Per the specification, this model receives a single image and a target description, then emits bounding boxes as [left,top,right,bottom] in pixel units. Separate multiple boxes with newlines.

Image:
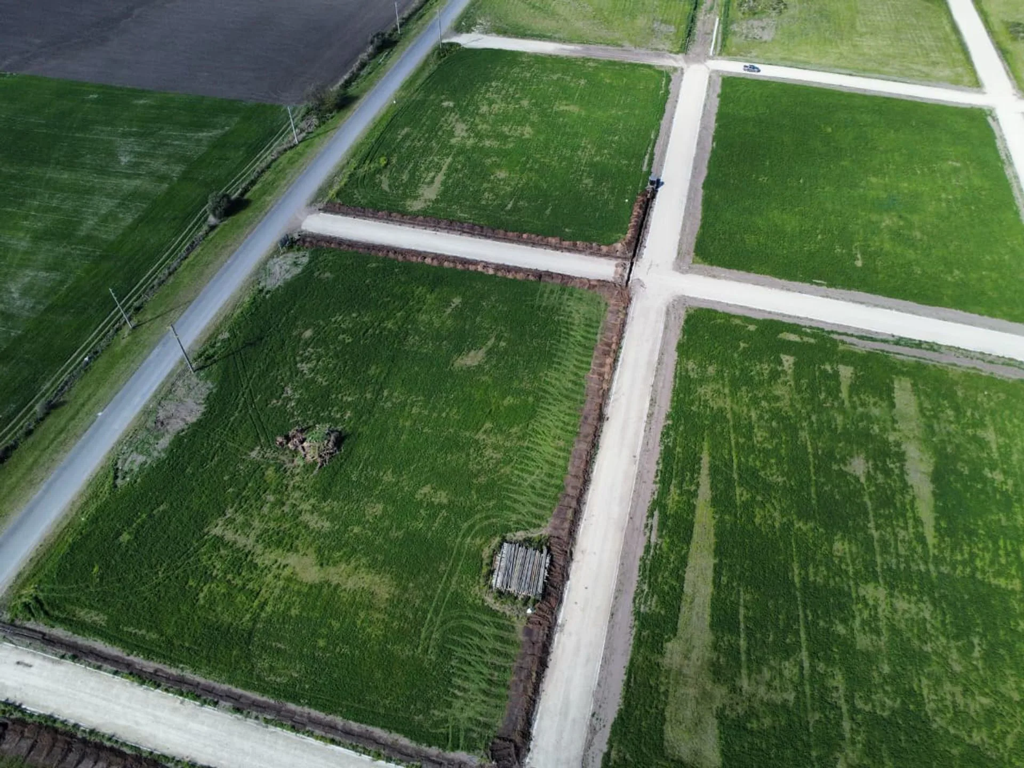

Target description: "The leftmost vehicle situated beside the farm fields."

[648,172,661,194]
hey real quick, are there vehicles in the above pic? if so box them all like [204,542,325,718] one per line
[648,172,661,194]
[742,63,762,72]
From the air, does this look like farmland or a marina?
farmland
